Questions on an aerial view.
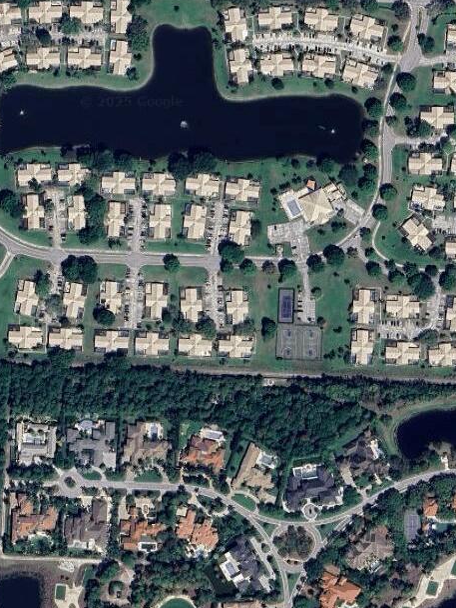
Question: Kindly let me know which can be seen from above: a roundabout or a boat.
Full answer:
The one in the frame is a roundabout.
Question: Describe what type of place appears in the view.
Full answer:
The area seen from above is a residential area.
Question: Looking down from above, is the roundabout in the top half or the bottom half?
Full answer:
You can find the roundabout in the bottom half.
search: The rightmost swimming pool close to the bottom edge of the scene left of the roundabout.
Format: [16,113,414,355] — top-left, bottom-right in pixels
[219,554,244,583]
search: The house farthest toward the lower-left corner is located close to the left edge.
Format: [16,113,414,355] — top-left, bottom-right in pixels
[10,494,58,547]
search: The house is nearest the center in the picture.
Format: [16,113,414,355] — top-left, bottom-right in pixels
[227,291,248,325]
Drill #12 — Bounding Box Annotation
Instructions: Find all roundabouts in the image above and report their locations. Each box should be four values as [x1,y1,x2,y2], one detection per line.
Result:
[269,517,321,567]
